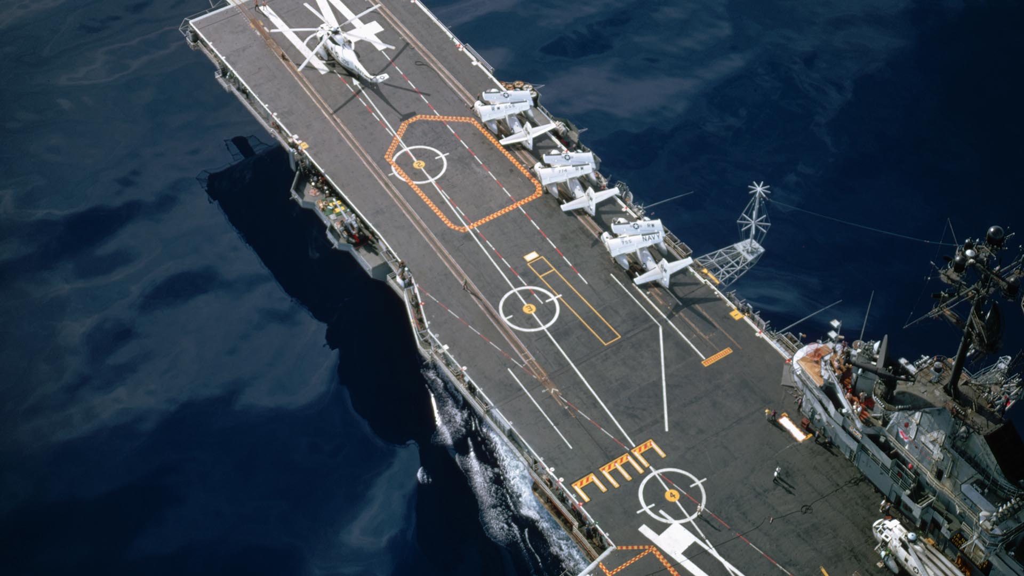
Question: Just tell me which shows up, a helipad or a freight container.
helipad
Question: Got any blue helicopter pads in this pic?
No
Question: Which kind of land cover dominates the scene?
water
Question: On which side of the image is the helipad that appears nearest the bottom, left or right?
right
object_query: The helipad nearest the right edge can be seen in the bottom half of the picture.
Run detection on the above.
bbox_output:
[637,468,707,524]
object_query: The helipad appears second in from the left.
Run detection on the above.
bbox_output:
[499,286,562,331]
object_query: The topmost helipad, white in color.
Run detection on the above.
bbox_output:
[388,146,450,184]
